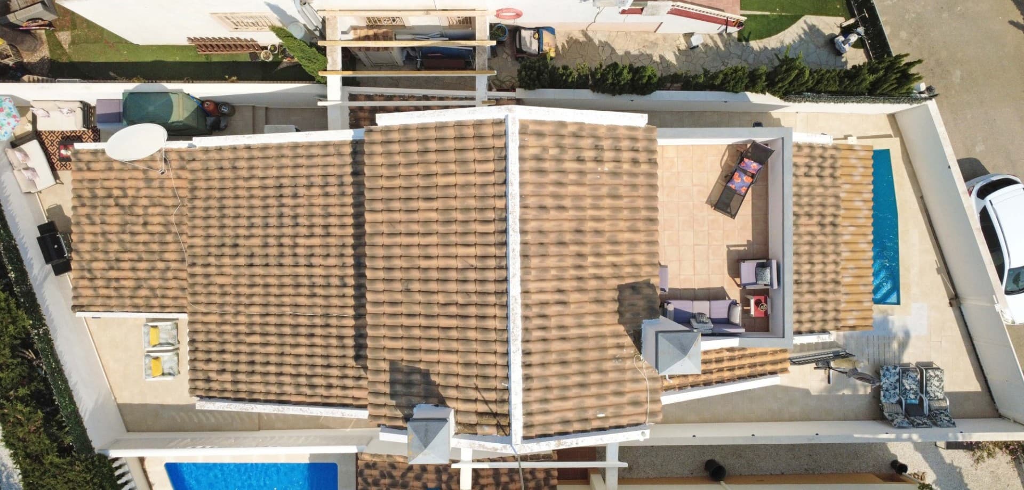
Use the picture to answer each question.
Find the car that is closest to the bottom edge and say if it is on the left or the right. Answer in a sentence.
The car that is closest to the bottom edge is on the right side of the image.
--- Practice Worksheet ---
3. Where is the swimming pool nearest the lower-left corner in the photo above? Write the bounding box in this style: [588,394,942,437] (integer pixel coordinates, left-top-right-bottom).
[164,463,338,490]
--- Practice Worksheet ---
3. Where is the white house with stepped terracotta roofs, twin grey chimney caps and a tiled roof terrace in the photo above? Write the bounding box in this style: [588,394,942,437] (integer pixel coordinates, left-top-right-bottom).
[68,105,875,463]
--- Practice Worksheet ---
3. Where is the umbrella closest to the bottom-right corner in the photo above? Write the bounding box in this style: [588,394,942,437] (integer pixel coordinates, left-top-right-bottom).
[814,357,871,386]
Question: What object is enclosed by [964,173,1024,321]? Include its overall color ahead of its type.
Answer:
white car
